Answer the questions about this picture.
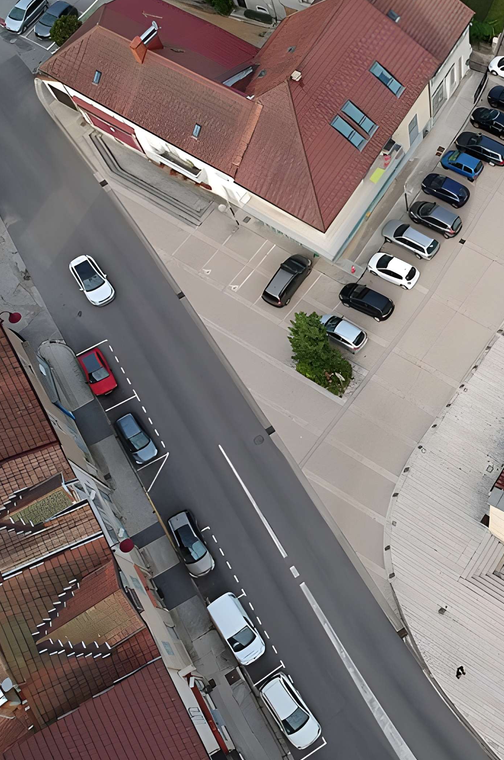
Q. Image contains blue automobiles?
Yes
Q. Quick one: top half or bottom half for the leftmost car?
top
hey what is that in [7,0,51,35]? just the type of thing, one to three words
car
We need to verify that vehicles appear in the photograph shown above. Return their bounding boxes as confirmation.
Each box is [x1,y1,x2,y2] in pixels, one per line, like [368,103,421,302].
[74,346,119,398]
[35,0,77,43]
[439,150,486,182]
[454,133,504,167]
[259,669,321,751]
[164,509,216,580]
[317,312,372,354]
[258,255,314,309]
[380,224,444,263]
[337,281,398,323]
[487,59,504,81]
[419,176,472,209]
[486,91,504,111]
[205,589,263,667]
[469,109,504,140]
[7,0,51,35]
[113,410,160,466]
[68,254,117,307]
[365,254,423,291]
[406,200,464,239]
